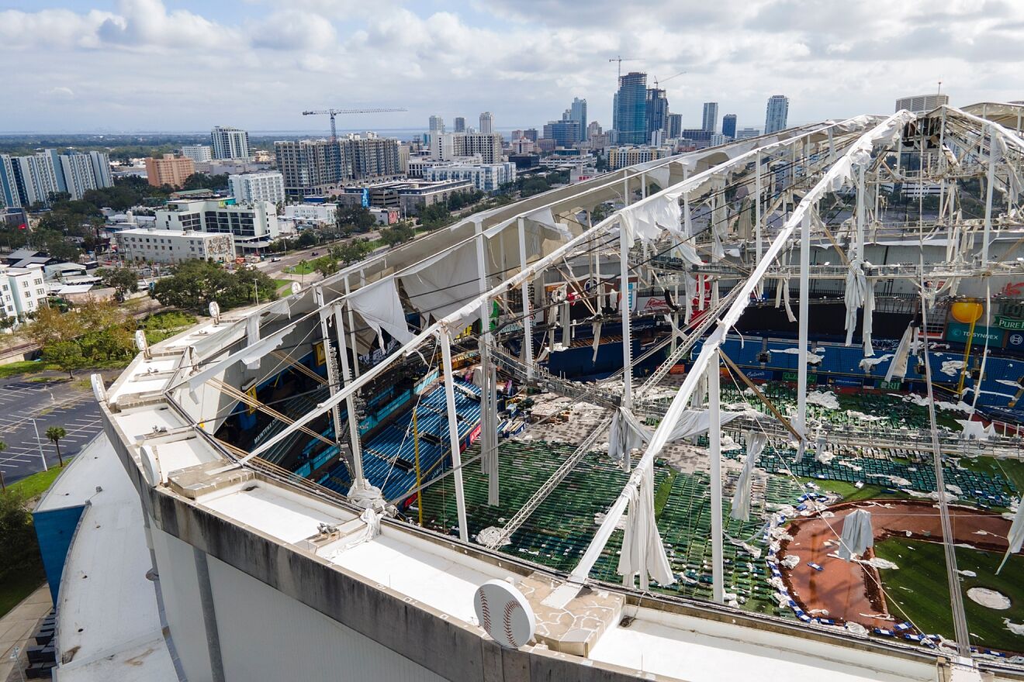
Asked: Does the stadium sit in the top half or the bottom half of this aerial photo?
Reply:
bottom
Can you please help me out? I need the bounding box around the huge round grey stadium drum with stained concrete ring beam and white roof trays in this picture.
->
[105,238,1024,682]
